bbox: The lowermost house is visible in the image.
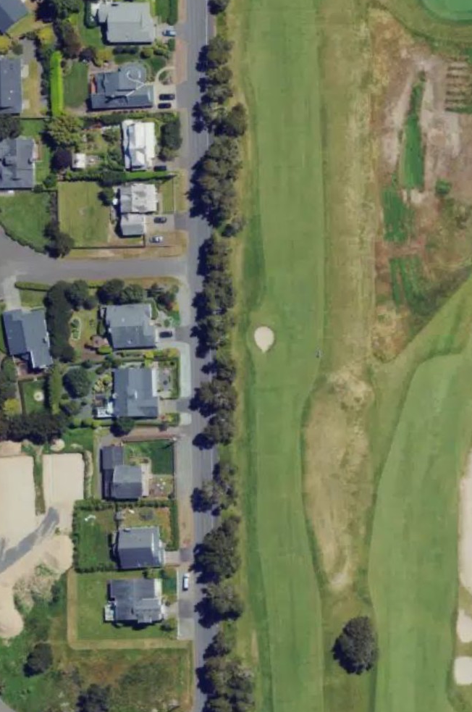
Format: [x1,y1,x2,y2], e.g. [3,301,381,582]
[110,580,163,624]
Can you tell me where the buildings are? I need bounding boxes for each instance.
[91,60,154,109]
[0,57,22,112]
[97,2,155,44]
[104,304,157,348]
[113,368,160,419]
[115,527,164,568]
[101,446,144,499]
[121,120,155,170]
[0,137,34,189]
[72,153,86,168]
[110,580,163,624]
[118,182,158,237]
[1,309,55,366]
[0,0,29,35]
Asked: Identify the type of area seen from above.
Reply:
golf course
